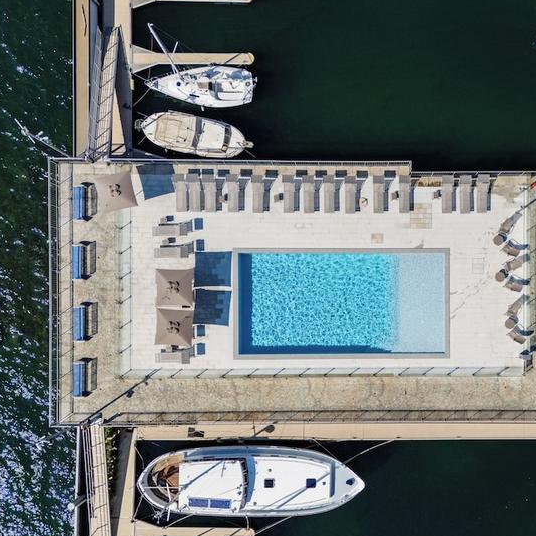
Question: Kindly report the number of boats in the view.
three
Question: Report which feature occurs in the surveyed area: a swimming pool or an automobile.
swimming pool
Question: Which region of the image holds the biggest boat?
bottom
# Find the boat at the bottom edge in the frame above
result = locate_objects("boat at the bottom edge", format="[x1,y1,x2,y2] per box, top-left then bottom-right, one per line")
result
[134,438,391,530]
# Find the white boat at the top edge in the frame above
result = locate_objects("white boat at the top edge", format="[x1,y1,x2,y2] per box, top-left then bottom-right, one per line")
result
[131,22,259,143]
